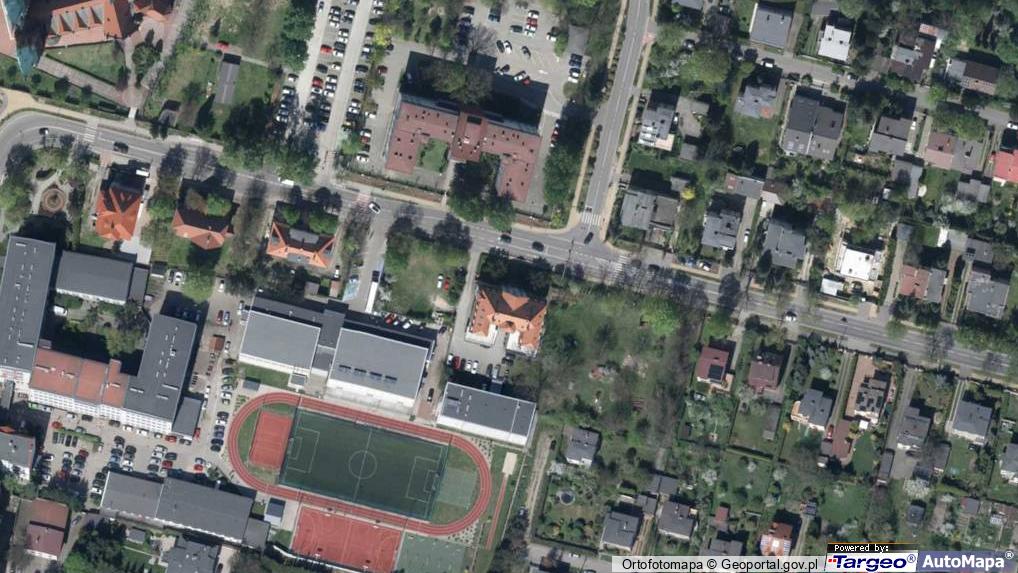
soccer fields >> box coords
[279,407,448,521]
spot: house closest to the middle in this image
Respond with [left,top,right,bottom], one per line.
[465,292,547,359]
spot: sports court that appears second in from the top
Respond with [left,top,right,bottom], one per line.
[437,468,478,508]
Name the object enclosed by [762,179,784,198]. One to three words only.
shed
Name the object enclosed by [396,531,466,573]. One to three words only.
sports court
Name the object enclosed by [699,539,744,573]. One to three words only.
house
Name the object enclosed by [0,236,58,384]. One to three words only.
building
